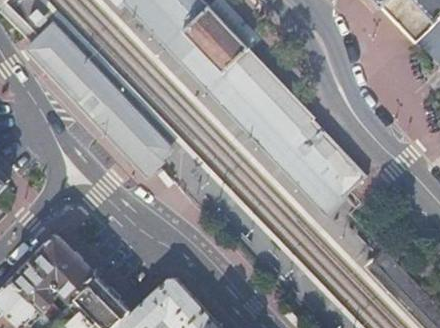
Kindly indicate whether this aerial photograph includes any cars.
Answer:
Yes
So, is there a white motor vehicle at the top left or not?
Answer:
Yes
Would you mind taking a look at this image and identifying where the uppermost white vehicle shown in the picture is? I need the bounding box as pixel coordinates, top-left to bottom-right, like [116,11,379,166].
[334,16,350,36]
